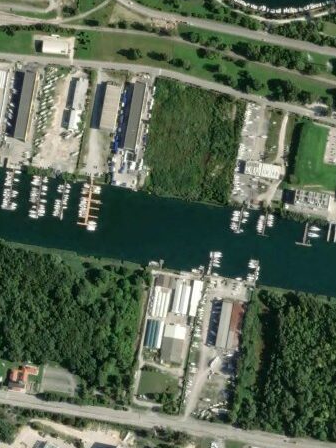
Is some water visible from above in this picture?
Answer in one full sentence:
Yes, water shows up in the scene.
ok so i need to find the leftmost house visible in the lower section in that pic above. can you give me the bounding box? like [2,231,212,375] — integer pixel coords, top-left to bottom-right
[9,367,39,390]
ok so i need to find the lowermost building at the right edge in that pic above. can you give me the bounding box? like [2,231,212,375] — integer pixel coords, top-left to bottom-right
[295,190,330,208]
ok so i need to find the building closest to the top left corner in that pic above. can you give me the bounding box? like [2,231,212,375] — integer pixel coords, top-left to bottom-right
[41,41,70,54]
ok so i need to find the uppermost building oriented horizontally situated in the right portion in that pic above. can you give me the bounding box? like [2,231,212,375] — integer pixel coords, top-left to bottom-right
[245,161,284,180]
